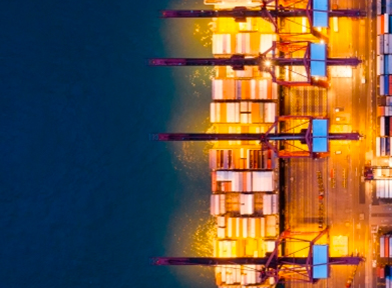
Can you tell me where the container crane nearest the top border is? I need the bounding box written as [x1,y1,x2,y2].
[156,0,366,43]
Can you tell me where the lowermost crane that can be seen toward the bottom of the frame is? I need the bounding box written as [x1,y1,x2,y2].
[154,223,366,285]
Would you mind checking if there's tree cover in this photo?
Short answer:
No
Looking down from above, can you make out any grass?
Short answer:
No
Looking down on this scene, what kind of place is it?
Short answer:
port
